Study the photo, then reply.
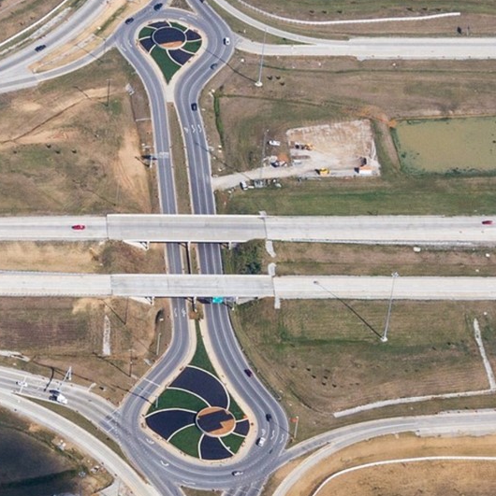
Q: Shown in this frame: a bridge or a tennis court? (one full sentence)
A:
Visible in the photo is a bridge.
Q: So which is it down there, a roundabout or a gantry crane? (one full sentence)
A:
Of the two, only a roundabout appears.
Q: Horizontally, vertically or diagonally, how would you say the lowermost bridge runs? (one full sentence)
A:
The lowermost bridge is laid out horizontally.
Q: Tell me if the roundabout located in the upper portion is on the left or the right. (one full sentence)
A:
You can find the roundabout located in the upper portion on the left side of the picture.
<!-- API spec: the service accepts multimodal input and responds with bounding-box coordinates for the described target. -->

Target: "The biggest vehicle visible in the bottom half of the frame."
[47,389,69,403]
